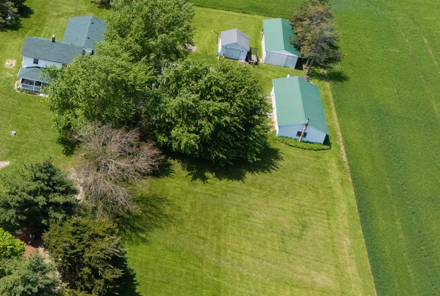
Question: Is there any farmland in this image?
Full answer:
Yes, the picture does contain farmland.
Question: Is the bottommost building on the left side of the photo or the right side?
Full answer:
The bottommost building is on the right side of the image.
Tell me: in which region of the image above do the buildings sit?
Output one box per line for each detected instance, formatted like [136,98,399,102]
[218,28,250,57]
[261,18,307,68]
[16,14,113,94]
[272,77,329,143]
